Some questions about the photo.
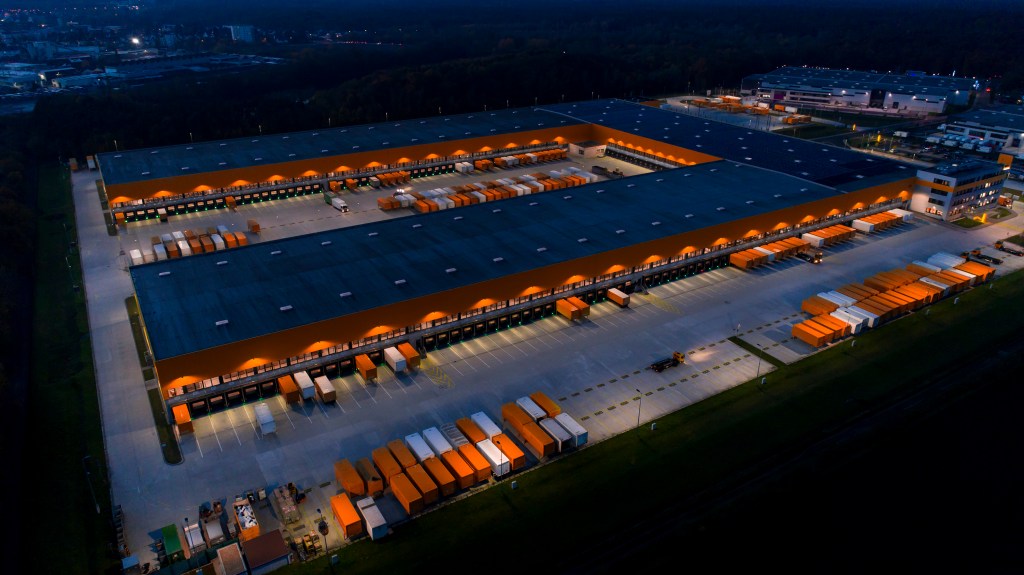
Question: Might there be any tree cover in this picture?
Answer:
Yes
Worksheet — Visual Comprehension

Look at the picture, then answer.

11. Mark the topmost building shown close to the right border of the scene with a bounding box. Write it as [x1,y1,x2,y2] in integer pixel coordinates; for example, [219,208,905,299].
[740,66,983,112]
